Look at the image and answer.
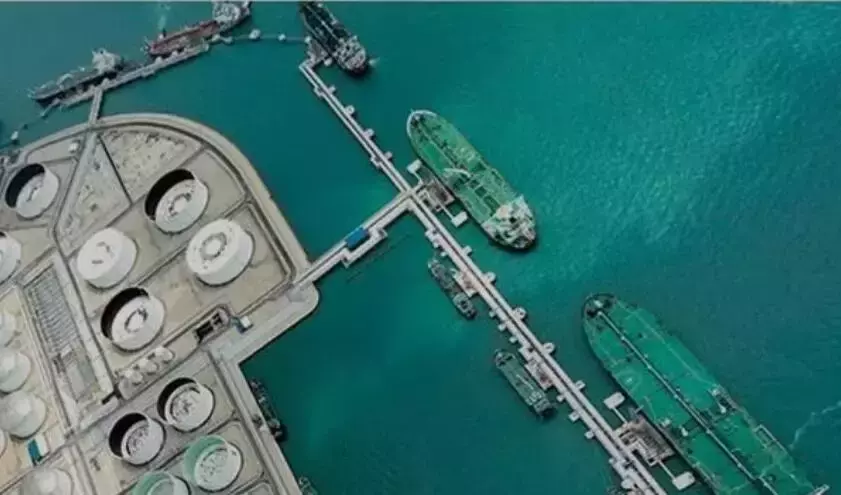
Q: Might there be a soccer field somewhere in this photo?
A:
No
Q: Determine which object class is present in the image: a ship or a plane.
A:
ship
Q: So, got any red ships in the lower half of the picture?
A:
No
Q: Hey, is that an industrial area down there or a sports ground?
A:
industrial area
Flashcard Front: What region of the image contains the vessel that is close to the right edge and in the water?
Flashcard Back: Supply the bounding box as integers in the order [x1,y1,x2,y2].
[551,291,828,495]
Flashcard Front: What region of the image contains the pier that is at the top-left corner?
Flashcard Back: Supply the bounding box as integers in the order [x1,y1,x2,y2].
[59,41,209,111]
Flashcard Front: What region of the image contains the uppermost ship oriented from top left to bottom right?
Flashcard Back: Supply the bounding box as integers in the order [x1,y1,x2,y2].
[289,0,375,80]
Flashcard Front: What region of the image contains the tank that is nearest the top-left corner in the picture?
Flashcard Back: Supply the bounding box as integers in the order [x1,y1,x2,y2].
[5,163,62,220]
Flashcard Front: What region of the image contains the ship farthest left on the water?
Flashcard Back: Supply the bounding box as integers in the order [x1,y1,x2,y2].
[23,49,131,106]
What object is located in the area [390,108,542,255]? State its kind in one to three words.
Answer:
ship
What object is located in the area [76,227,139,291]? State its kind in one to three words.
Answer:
storage tank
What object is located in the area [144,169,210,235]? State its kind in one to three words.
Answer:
storage tank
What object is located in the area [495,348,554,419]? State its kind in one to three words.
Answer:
ship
